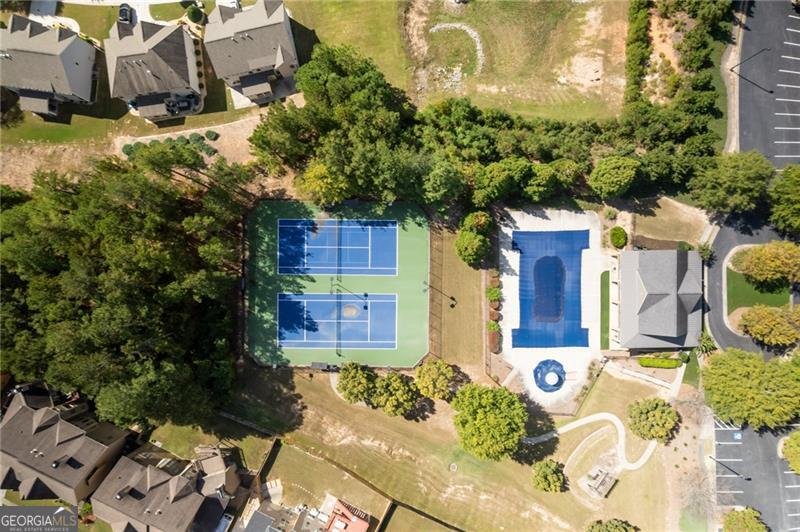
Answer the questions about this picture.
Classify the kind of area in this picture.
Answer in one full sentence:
This looks like a residential area.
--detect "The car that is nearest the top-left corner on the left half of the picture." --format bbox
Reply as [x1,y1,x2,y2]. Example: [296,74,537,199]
[118,1,131,20]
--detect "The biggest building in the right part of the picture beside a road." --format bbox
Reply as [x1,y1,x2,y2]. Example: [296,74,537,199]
[608,248,702,348]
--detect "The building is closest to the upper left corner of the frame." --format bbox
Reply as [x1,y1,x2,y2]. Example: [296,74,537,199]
[0,0,95,117]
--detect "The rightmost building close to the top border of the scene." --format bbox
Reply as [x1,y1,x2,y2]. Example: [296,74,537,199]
[202,0,302,101]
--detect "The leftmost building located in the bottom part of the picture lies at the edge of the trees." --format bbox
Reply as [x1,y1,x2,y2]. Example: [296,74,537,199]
[0,374,124,507]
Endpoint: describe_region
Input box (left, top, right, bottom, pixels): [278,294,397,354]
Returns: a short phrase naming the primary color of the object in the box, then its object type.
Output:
blue tennis court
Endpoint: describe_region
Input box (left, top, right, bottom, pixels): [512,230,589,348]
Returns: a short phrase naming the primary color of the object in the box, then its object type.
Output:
blue swimming pool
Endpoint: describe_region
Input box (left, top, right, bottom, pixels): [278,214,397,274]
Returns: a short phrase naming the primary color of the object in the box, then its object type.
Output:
blue tennis court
